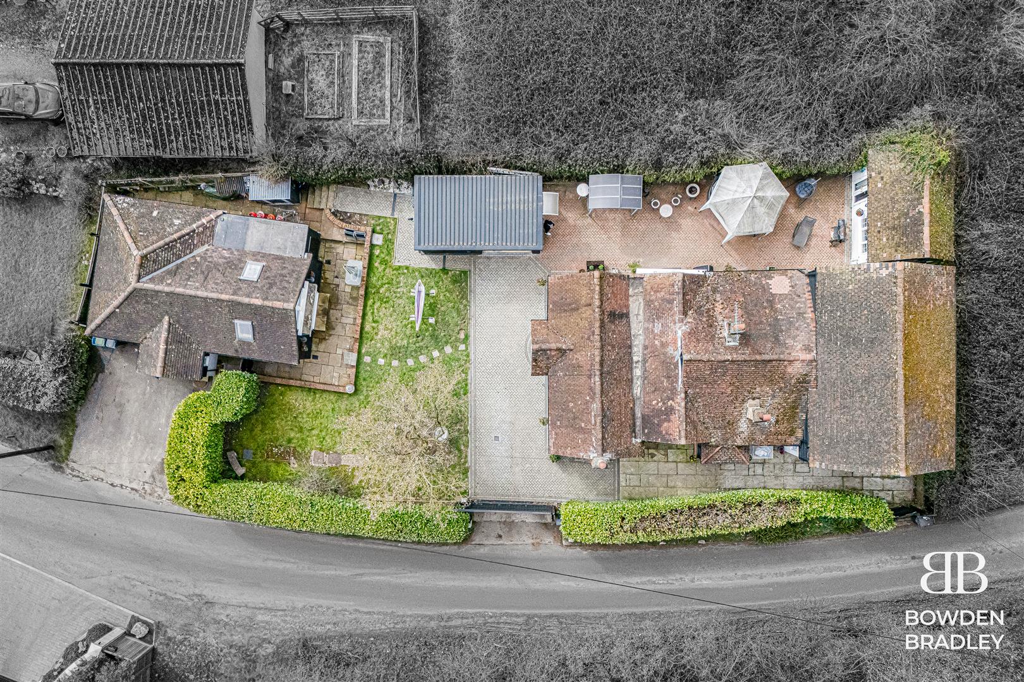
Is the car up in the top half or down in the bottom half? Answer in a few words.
top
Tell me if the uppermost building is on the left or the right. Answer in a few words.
left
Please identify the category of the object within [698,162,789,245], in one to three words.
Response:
gazebo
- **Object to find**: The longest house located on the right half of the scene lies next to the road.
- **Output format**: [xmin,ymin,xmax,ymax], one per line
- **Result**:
[531,263,957,476]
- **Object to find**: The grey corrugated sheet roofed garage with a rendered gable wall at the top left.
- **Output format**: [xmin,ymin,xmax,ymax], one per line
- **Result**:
[44,0,265,163]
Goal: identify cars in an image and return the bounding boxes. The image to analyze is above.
[0,78,61,125]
